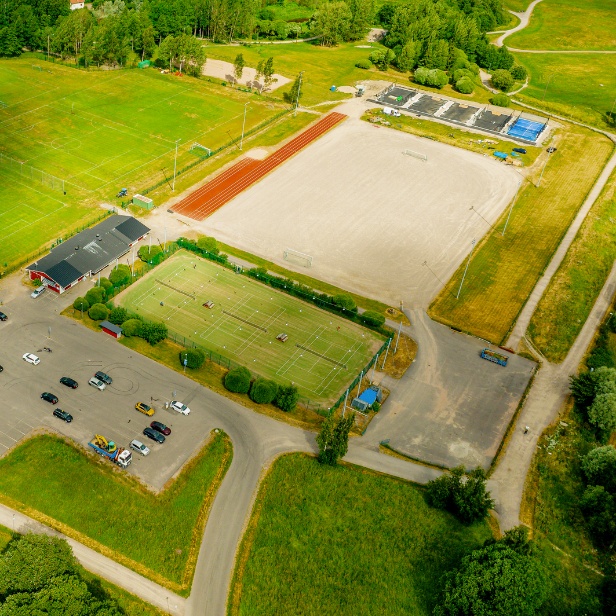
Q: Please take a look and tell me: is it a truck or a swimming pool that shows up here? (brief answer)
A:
truck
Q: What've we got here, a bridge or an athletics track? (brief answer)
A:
athletics track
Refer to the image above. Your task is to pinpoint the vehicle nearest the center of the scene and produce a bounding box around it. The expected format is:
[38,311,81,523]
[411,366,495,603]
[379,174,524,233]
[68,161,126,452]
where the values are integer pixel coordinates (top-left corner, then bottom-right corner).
[169,399,191,414]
